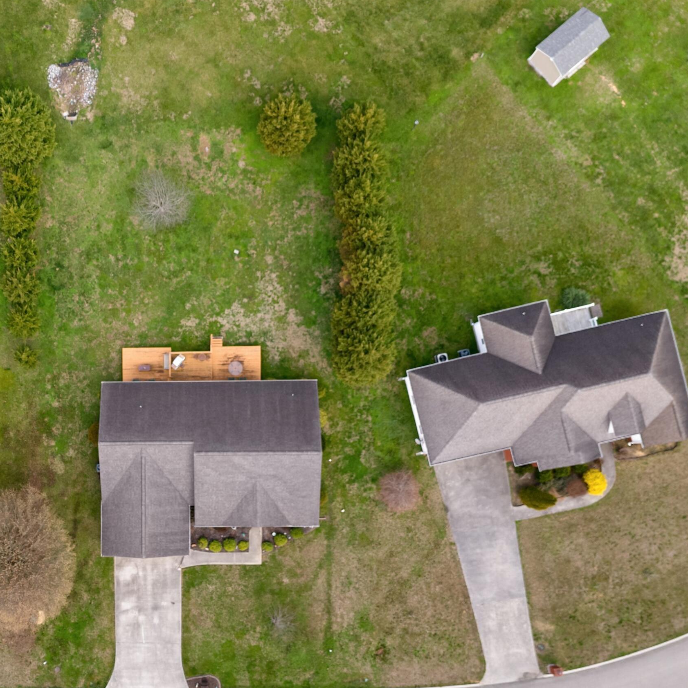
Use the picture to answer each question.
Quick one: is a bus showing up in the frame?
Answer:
No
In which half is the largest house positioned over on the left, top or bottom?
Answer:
bottom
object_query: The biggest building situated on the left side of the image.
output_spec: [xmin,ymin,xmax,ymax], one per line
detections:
[98,379,322,559]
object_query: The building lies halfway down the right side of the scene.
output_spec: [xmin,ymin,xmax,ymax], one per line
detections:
[396,300,688,471]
